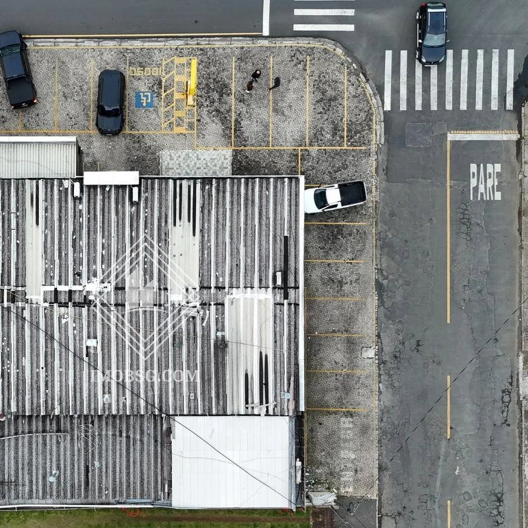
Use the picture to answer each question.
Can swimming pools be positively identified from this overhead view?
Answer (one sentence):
No, there isn't any swimming pool down there.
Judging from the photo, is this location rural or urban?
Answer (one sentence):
It looks urban.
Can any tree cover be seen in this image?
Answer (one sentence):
No, the picture contains no tree cover.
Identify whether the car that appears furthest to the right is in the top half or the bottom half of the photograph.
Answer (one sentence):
The car that appears furthest to the right sits in the top half of the picture.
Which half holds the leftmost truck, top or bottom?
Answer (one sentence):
It is in the top half that the leftmost truck appears.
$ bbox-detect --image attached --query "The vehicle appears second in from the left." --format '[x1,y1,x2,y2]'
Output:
[95,69,127,137]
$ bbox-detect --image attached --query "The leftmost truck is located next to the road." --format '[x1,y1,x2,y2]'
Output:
[0,32,36,111]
